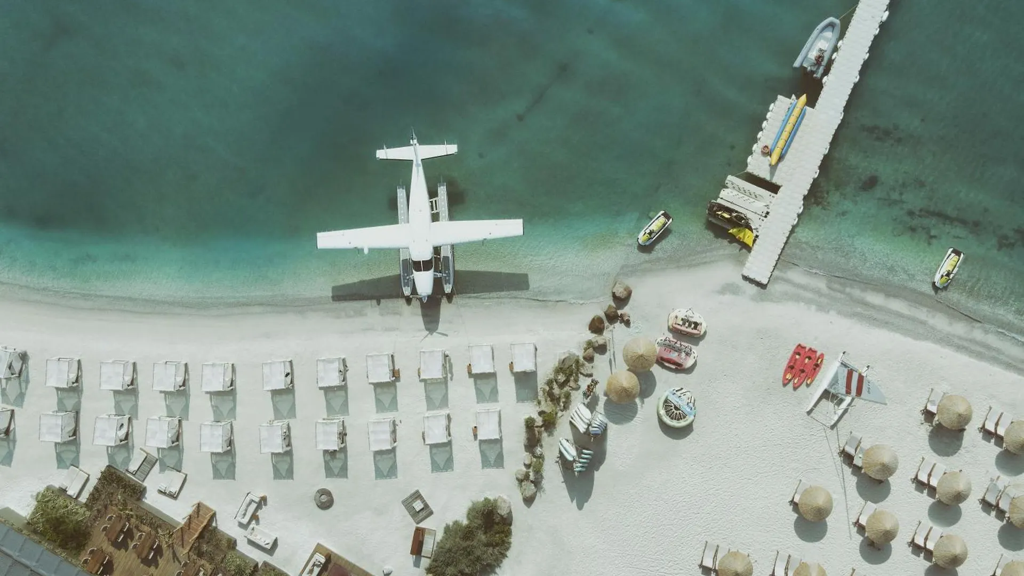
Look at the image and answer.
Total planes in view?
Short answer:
one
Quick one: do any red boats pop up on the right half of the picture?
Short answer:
Yes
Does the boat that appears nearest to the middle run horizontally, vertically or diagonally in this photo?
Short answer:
diagonally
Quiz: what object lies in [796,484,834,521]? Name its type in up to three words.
umbrella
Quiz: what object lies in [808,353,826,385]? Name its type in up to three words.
boat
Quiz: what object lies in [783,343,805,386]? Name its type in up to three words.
boat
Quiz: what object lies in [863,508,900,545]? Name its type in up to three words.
umbrella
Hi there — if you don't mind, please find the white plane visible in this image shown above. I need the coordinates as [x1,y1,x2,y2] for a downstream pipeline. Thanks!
[315,129,522,303]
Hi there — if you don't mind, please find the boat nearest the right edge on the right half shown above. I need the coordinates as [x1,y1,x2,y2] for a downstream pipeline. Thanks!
[935,248,962,289]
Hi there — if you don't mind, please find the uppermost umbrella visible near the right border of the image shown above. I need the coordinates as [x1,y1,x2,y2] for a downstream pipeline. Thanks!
[935,393,973,431]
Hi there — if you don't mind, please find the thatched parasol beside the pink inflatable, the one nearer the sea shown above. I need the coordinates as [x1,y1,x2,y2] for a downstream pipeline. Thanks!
[620,334,659,373]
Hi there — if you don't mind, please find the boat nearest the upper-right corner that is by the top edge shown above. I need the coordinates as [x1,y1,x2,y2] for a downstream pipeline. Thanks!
[792,15,839,80]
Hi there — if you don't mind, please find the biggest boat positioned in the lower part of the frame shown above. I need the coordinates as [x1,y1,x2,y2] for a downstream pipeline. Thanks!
[807,350,888,427]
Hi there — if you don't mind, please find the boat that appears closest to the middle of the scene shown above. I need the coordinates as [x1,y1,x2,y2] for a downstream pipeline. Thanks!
[641,209,673,245]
